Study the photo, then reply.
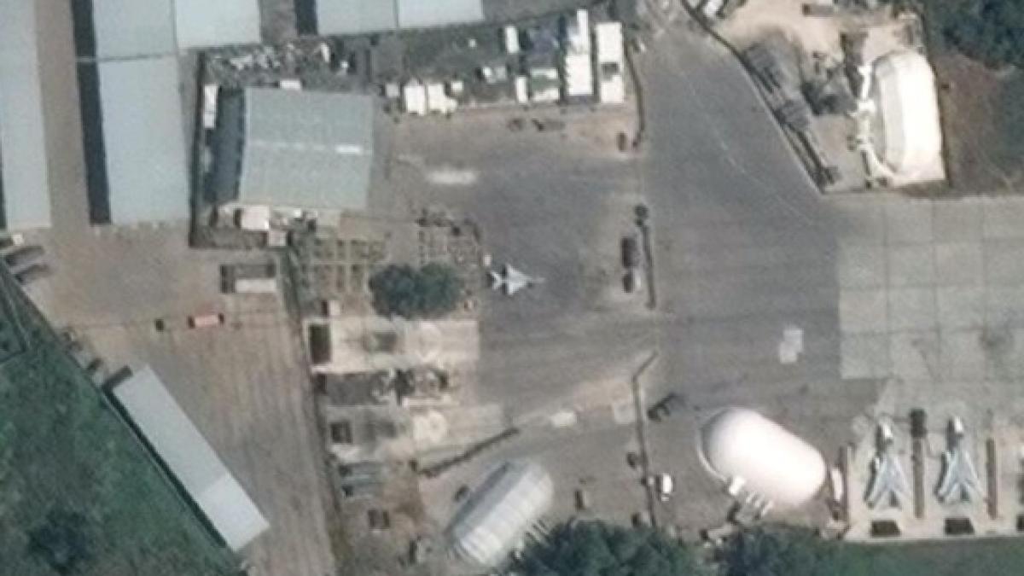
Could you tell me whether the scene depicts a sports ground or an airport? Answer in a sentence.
This image shows an airport.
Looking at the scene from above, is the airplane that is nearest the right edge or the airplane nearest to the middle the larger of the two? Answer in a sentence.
The airplane nearest to the middle is smaller than the airplane that is nearest the right edge.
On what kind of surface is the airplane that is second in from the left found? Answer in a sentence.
The airplane that is second in from the left is on the apron.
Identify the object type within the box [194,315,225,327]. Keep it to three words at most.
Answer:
vehicle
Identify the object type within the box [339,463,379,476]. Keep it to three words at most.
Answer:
vehicle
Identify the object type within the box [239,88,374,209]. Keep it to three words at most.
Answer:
hangar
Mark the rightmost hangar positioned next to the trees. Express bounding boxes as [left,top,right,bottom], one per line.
[874,51,946,183]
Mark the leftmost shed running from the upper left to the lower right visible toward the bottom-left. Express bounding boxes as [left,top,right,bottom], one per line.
[113,366,269,551]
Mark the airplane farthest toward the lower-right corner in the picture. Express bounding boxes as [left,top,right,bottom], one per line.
[938,422,982,507]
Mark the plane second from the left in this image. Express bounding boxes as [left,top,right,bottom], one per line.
[866,425,911,512]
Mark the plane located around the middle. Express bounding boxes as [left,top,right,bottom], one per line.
[491,264,538,295]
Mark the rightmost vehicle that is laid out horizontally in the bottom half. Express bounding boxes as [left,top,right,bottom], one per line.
[702,524,732,539]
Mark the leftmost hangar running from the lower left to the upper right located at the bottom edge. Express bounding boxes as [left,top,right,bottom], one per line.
[451,464,554,564]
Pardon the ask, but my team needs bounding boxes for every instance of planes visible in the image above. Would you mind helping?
[938,422,982,507]
[491,264,538,295]
[866,425,911,512]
